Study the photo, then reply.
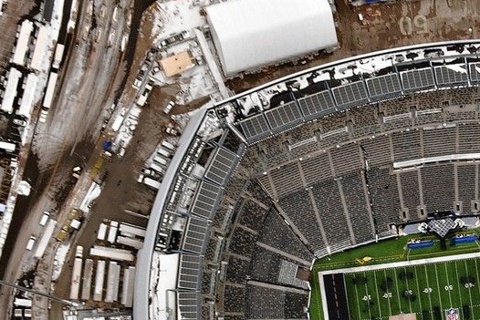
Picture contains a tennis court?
No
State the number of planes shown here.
zero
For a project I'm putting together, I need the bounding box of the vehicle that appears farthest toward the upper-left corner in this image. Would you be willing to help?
[52,43,65,68]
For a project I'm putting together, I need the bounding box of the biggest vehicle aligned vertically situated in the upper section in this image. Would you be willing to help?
[41,71,60,117]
